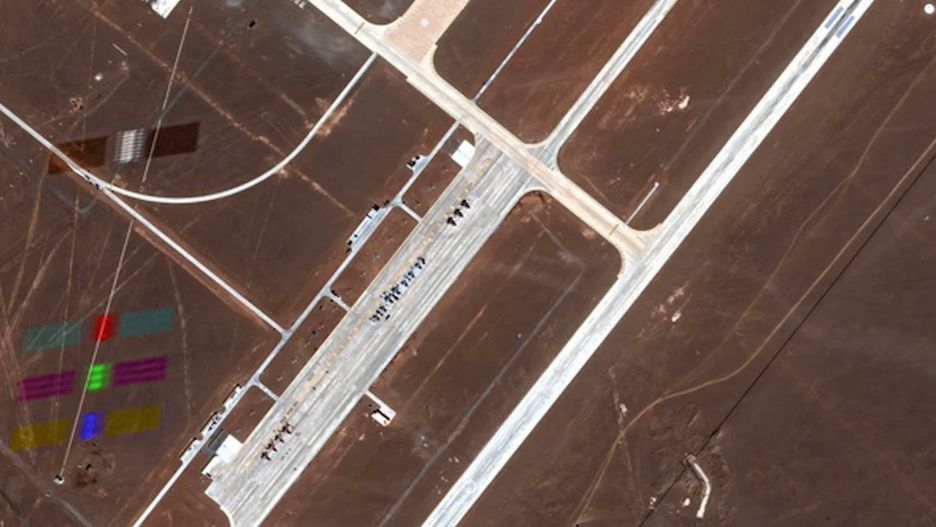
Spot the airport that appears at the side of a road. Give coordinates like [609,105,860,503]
[205,0,875,527]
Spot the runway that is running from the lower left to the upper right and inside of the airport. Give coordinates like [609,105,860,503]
[420,0,875,527]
